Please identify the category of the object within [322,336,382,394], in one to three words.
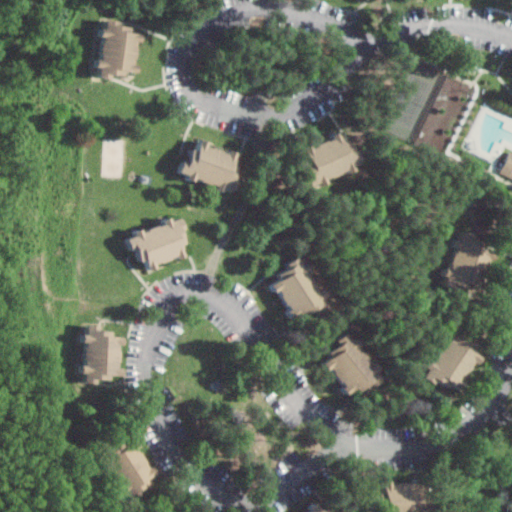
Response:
building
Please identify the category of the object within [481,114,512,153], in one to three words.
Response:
swimming pool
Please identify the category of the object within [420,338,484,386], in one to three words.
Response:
building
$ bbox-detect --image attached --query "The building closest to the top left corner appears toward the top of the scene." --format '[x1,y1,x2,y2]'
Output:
[98,20,142,80]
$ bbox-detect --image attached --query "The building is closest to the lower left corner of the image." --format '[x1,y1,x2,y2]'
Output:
[110,444,158,496]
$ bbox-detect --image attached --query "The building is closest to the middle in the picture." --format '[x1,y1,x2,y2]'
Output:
[270,258,327,319]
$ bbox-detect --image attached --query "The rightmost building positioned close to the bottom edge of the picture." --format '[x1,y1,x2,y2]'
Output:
[380,480,434,512]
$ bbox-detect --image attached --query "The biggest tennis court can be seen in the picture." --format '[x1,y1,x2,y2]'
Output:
[382,72,440,142]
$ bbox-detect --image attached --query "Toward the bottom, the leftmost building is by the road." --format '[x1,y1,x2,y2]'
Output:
[82,326,124,384]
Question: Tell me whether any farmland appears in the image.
No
